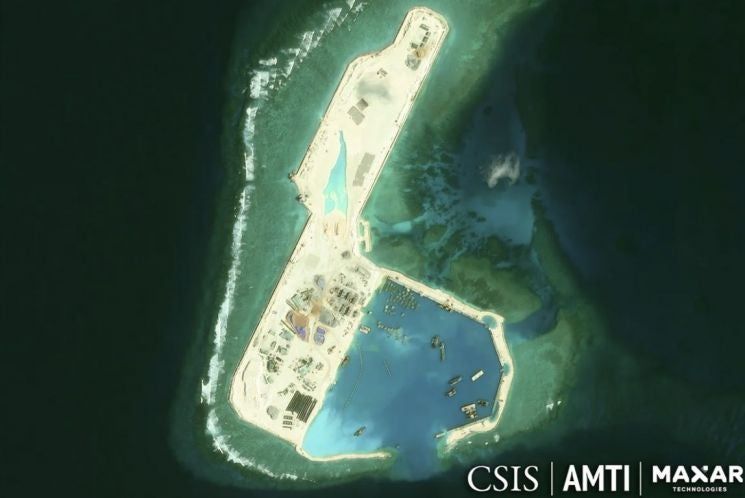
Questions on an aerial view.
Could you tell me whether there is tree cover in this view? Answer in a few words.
No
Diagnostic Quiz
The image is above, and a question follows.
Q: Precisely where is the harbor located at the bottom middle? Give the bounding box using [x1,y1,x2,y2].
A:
[296,270,514,462]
